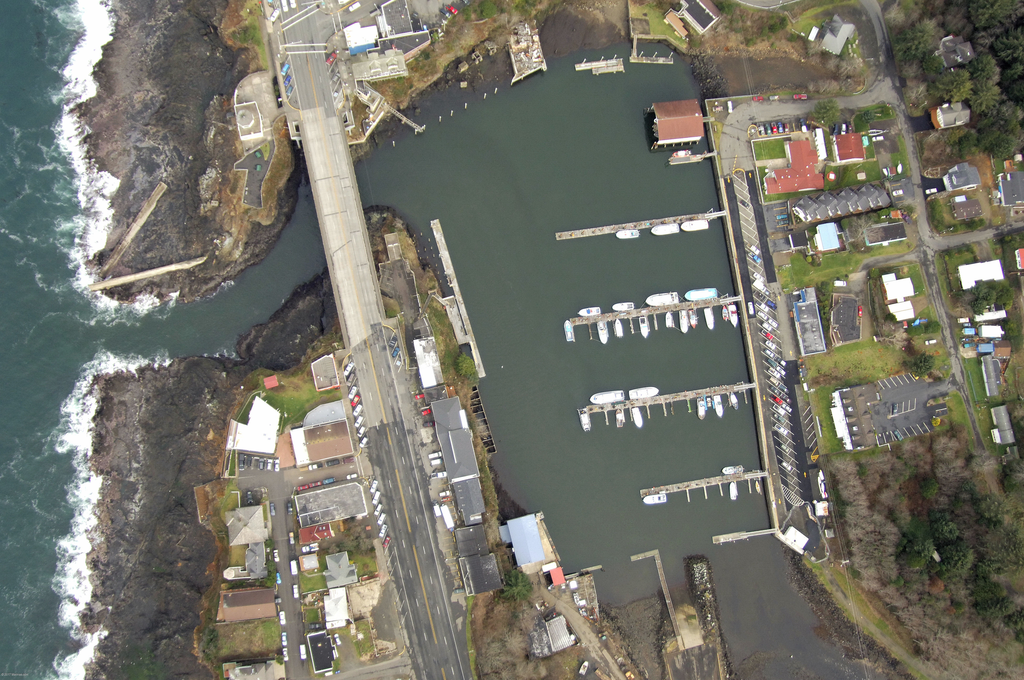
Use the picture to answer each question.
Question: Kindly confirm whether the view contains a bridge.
Yes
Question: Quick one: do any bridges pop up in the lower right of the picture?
No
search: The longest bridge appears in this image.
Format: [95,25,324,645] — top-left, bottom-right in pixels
[287,106,387,348]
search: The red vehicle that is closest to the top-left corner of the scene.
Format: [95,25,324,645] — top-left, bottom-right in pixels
[325,51,338,66]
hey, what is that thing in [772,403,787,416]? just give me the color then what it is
white vehicle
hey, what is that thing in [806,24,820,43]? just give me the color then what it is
white camper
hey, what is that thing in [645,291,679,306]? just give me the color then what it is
white boat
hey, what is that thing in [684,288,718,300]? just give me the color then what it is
white boat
